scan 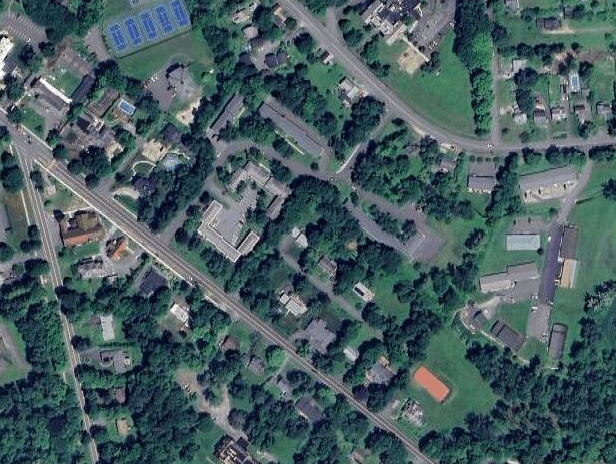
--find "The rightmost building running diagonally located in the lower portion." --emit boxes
[489,316,527,351]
